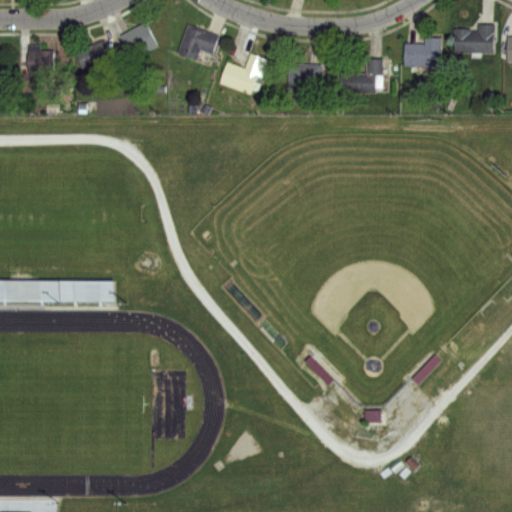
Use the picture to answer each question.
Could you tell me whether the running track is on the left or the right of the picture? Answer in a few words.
left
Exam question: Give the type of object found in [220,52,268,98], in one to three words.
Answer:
house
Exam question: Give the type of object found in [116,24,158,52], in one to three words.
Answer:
house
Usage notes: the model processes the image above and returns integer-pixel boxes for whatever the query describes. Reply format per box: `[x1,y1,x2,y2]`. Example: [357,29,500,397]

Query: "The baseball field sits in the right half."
[193,135,512,404]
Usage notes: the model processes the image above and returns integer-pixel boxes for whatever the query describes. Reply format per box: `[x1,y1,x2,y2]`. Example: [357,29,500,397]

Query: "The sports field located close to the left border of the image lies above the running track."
[0,151,150,276]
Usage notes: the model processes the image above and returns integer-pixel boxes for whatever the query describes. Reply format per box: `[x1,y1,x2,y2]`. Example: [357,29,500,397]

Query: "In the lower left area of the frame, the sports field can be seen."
[0,332,203,474]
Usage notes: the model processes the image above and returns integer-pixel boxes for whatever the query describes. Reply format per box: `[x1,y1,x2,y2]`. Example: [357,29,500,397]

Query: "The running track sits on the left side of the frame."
[0,310,226,497]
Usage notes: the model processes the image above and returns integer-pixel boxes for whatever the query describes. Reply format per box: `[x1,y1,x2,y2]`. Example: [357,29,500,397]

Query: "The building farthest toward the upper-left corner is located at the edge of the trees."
[28,44,56,78]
